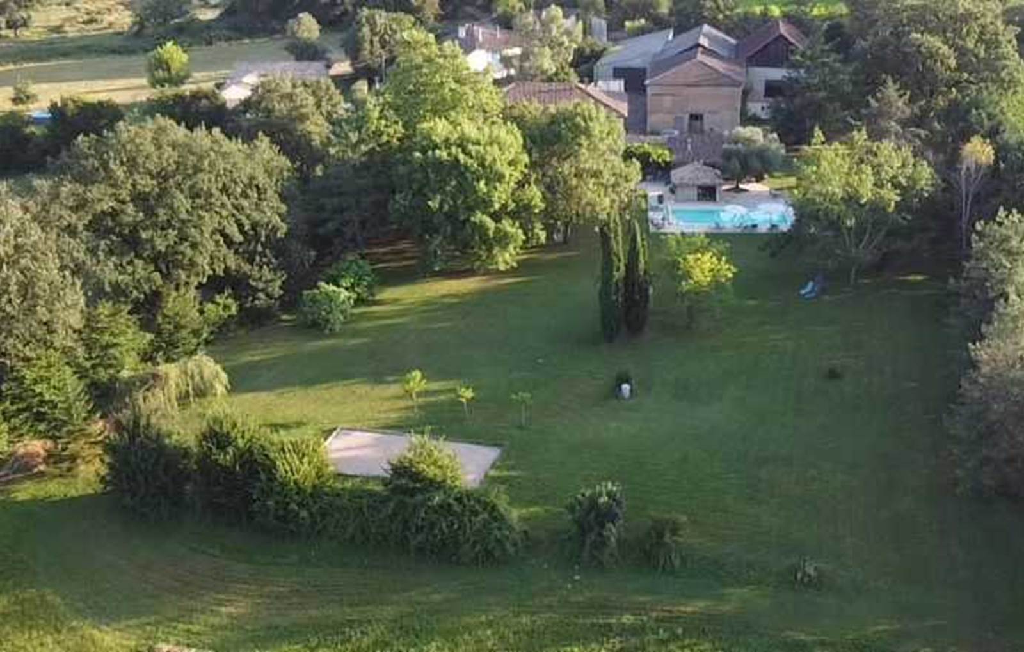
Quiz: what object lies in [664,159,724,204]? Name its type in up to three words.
building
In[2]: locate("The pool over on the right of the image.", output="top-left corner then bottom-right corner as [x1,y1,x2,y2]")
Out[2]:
[670,205,800,228]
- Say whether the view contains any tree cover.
Yes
